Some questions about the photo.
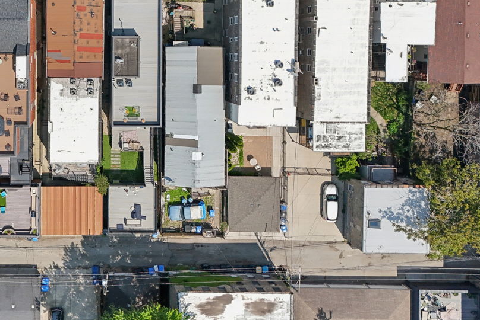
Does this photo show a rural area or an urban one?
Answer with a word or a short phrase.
urban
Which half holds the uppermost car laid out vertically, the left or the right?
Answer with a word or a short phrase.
right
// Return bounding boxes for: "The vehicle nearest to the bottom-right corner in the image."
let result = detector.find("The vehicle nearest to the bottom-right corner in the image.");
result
[320,181,340,223]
